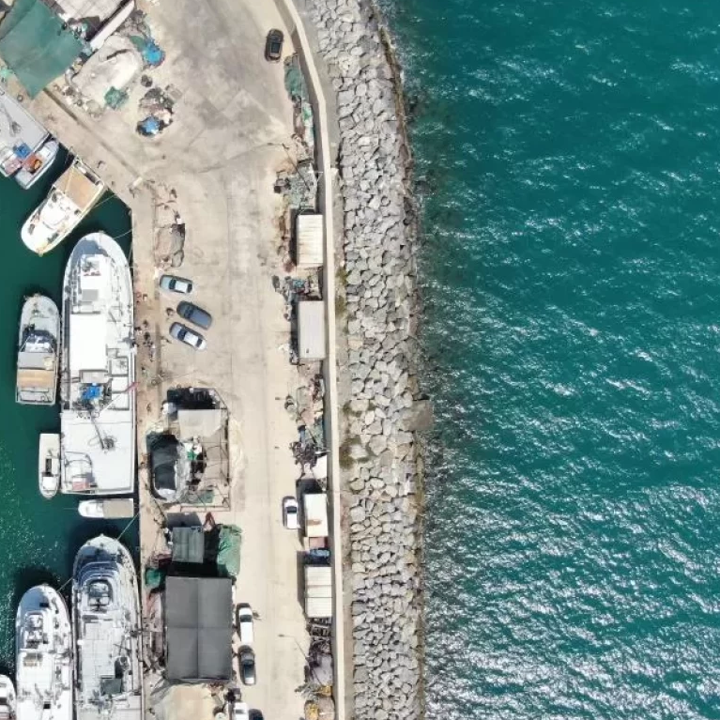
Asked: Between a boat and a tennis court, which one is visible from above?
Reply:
boat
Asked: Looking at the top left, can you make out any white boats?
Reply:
Yes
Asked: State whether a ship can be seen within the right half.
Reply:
No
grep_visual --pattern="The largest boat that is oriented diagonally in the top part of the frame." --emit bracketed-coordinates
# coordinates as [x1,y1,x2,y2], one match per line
[22,161,106,253]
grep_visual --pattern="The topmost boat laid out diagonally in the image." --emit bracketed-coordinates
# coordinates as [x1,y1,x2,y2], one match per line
[14,137,57,189]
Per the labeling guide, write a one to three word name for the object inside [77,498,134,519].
boat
